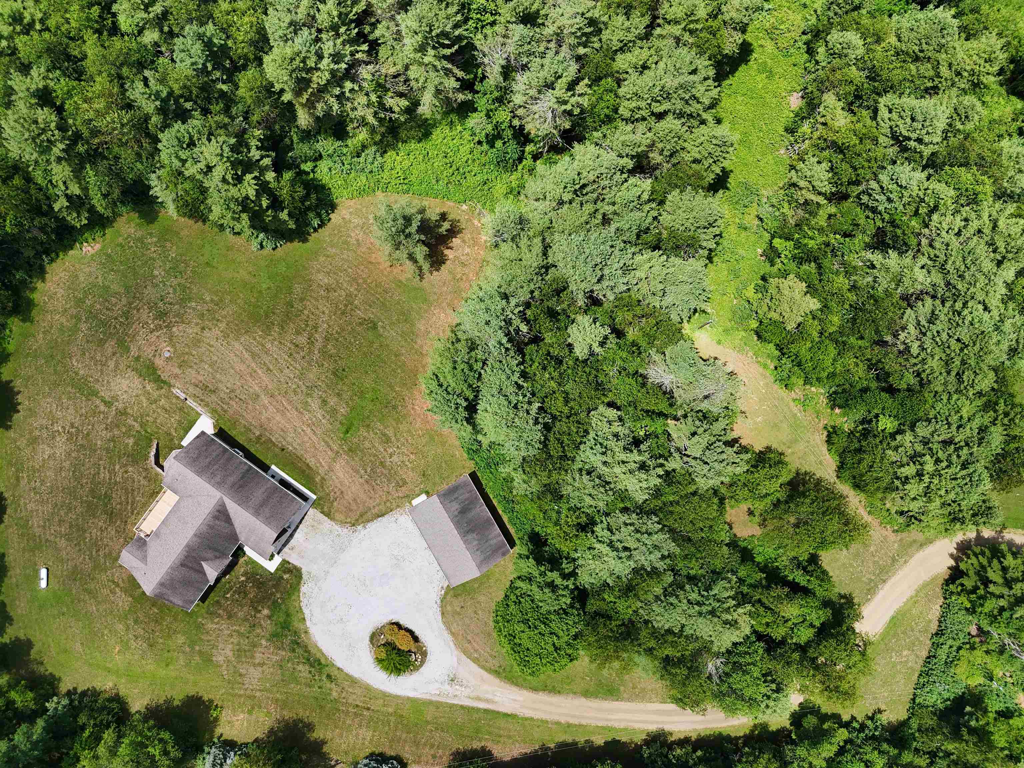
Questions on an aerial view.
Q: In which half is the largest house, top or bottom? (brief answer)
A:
bottom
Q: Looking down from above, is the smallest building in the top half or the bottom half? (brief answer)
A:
bottom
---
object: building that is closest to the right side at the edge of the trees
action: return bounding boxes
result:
[407,474,512,588]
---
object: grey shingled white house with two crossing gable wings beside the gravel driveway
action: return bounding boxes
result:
[118,428,306,613]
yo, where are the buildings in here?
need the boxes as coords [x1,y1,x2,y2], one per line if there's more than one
[407,474,512,588]
[118,428,306,613]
